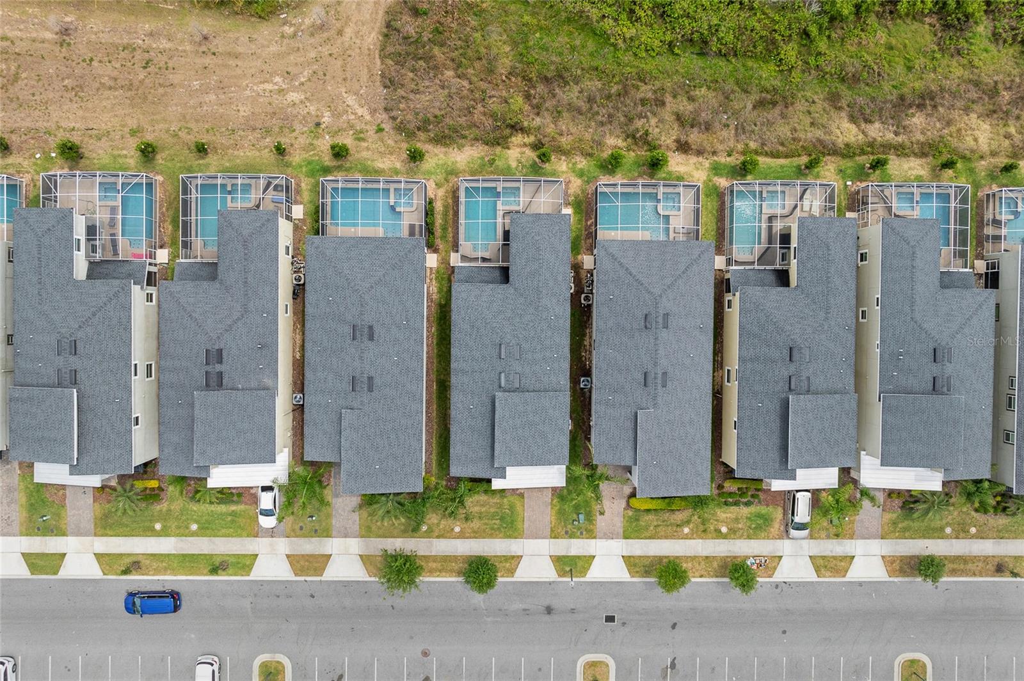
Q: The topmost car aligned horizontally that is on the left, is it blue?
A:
Yes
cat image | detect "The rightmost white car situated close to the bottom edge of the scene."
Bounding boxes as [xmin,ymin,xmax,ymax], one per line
[198,653,222,681]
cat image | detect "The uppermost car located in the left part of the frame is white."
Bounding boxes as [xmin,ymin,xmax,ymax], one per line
[256,486,281,530]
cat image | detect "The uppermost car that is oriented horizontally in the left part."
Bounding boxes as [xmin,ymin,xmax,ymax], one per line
[129,589,183,616]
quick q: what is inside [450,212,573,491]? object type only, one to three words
house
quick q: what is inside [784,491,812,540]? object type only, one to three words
car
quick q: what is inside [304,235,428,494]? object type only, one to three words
house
